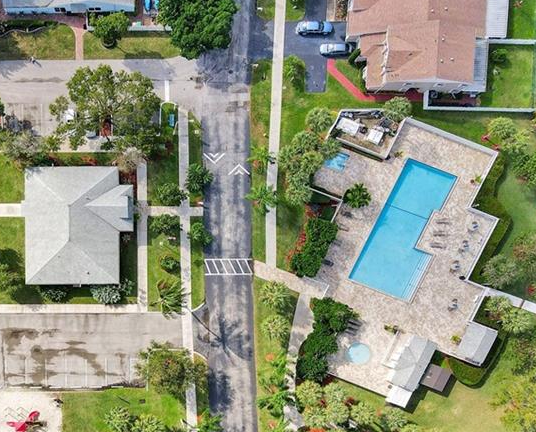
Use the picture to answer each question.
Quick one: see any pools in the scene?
Yes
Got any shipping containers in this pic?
No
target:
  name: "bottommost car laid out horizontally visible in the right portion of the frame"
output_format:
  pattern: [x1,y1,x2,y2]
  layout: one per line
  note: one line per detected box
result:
[318,41,351,57]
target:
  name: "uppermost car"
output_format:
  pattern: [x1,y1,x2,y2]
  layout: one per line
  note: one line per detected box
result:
[297,21,332,36]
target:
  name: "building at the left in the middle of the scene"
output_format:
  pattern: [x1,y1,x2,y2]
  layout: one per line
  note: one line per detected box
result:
[25,166,134,284]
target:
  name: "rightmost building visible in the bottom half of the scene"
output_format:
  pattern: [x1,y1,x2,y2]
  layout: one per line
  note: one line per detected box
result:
[453,321,498,366]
